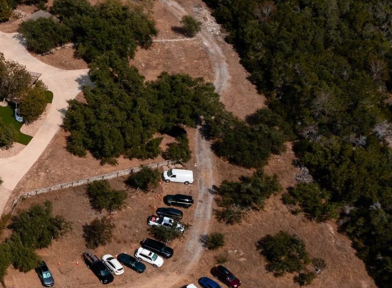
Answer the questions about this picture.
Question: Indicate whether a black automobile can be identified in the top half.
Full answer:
No, I can find no black automobile in the top half.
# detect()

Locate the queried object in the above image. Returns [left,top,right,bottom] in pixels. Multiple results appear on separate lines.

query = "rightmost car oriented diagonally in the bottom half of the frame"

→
[210,263,242,288]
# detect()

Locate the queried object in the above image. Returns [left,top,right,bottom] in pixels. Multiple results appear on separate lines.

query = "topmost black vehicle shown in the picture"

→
[164,194,195,208]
